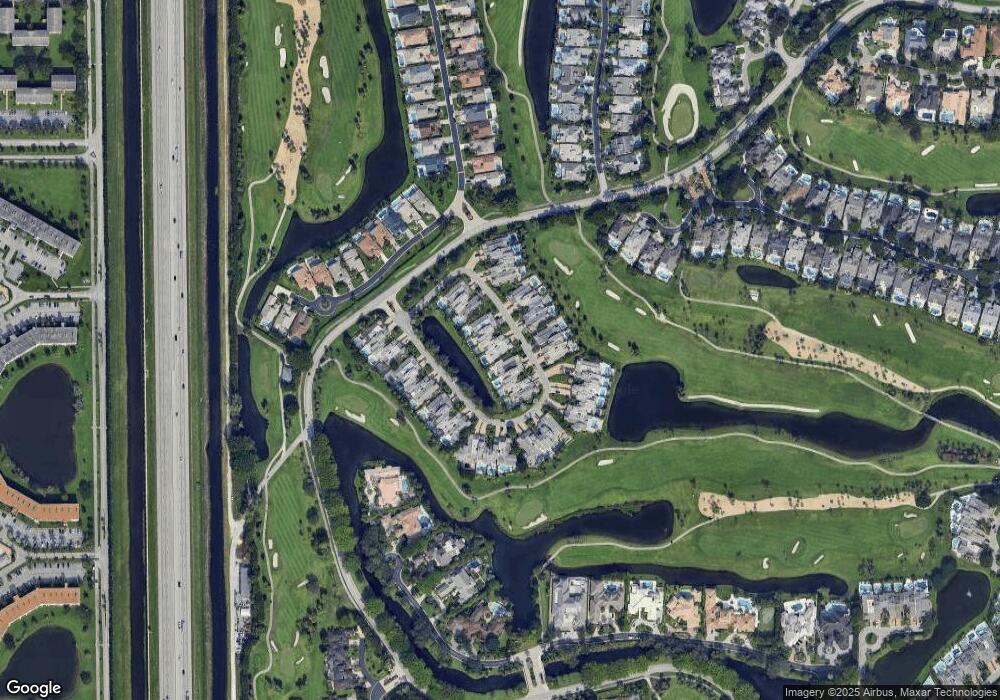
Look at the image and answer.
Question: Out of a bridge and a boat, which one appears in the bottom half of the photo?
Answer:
bridge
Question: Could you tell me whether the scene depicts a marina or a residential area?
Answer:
residential area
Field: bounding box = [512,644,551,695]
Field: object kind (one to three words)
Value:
bridge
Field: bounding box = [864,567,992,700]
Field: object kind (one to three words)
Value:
pond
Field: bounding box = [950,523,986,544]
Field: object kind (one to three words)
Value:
house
